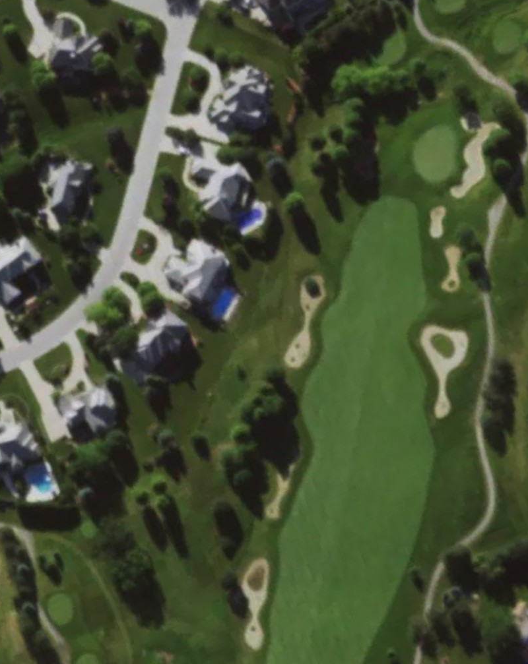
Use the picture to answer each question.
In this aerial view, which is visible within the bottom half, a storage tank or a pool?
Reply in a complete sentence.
What appears within the bottom half is a pool.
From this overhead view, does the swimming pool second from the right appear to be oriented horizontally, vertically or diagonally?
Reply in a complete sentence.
What the image shows is the swimming pool second from the right lying diagonally.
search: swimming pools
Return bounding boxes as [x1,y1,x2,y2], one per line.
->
[210,288,237,319]
[237,208,263,227]
[26,463,52,493]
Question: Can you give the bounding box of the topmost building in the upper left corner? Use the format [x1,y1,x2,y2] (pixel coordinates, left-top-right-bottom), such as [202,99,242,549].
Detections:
[46,29,108,88]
